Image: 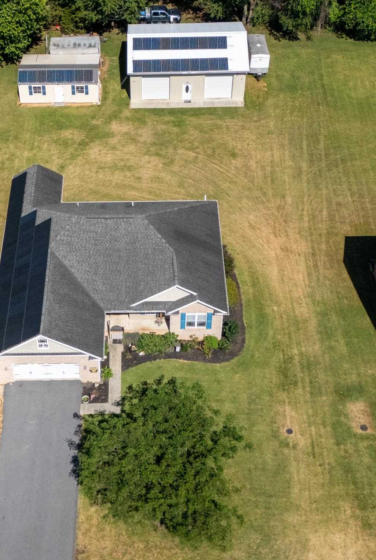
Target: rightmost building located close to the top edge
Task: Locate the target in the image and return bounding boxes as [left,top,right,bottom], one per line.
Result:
[128,22,250,101]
